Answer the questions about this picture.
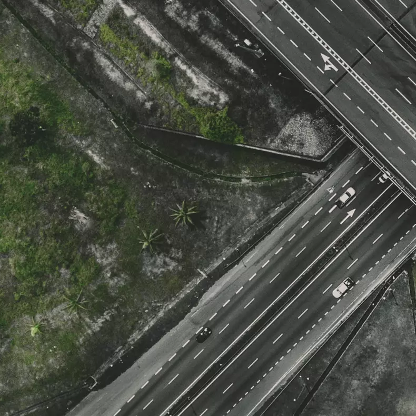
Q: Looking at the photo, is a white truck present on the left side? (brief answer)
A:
No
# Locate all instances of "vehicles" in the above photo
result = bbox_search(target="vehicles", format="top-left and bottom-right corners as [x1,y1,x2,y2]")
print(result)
[195,326,213,343]
[332,275,356,298]
[377,170,390,185]
[334,187,356,210]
